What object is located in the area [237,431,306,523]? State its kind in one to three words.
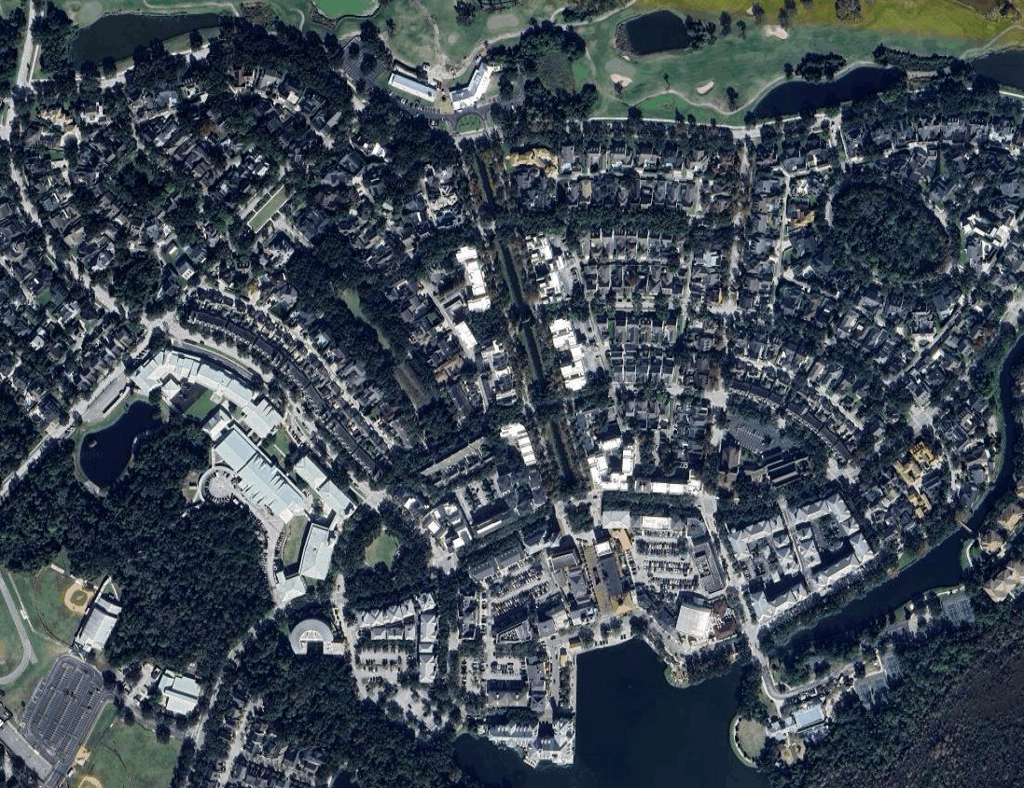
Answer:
building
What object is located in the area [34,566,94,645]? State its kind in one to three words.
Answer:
baseball field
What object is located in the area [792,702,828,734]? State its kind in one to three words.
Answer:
swimming pool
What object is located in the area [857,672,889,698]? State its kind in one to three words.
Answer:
tennis court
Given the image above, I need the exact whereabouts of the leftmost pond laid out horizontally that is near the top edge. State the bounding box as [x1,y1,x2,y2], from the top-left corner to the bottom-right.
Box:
[71,15,218,68]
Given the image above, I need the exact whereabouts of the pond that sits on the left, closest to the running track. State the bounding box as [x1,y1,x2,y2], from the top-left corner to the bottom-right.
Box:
[82,403,160,485]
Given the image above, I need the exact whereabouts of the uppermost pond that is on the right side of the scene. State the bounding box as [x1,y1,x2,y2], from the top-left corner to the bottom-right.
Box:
[629,12,687,52]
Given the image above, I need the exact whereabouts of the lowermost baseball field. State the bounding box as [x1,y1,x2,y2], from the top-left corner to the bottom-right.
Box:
[75,720,168,788]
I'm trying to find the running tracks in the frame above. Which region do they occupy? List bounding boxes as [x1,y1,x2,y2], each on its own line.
[0,577,37,680]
